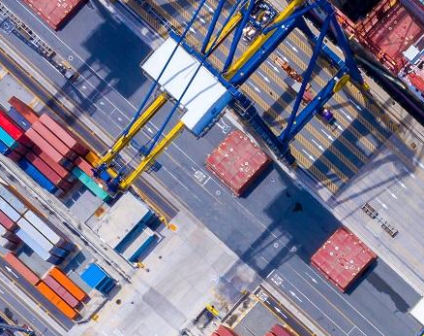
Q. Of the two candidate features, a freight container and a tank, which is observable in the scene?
freight container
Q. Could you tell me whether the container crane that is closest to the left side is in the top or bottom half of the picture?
top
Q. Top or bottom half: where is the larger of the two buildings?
bottom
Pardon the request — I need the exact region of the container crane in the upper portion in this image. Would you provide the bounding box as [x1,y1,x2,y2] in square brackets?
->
[82,0,369,204]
